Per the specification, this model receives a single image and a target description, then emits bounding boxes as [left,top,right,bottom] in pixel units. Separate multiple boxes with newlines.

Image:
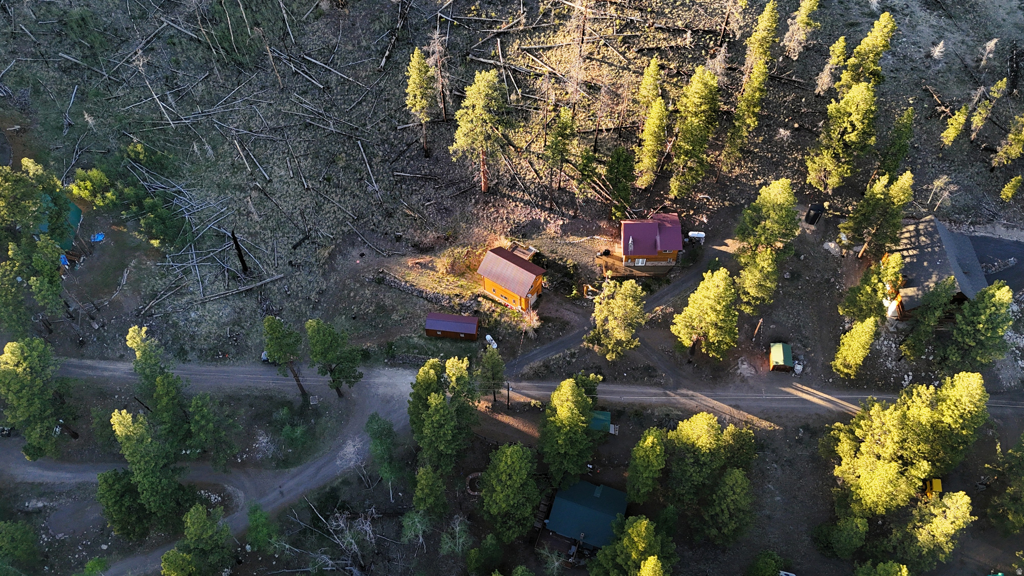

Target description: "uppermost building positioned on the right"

[619,212,685,268]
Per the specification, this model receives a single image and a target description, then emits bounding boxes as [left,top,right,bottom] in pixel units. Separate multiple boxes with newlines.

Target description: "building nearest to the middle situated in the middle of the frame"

[477,247,549,310]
